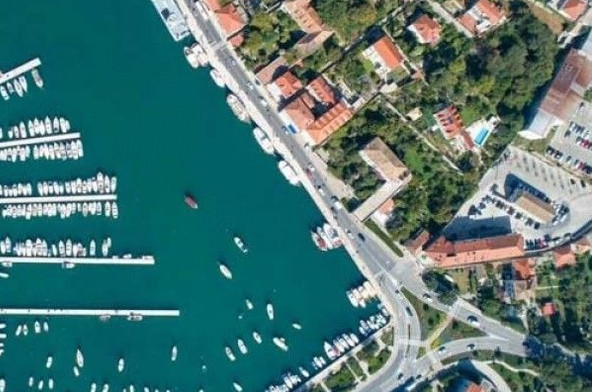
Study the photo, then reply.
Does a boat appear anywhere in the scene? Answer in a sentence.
Yes, the image includes a boat.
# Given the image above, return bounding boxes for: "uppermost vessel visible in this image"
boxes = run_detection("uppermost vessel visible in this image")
[152,0,191,43]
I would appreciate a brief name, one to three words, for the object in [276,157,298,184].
boat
